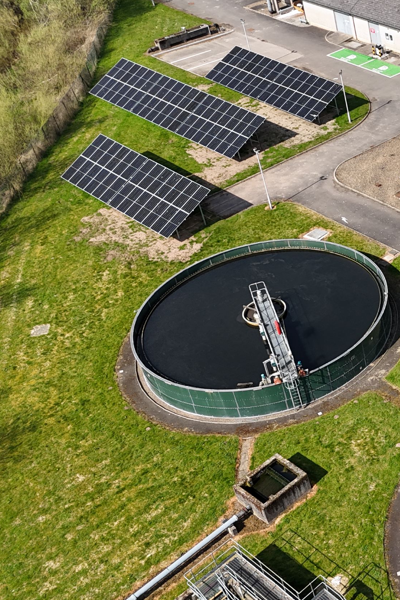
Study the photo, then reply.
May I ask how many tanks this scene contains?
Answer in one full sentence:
The count comes to 1 tank.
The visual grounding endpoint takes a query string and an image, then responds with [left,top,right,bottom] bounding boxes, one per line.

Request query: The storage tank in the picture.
[132,239,390,417]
